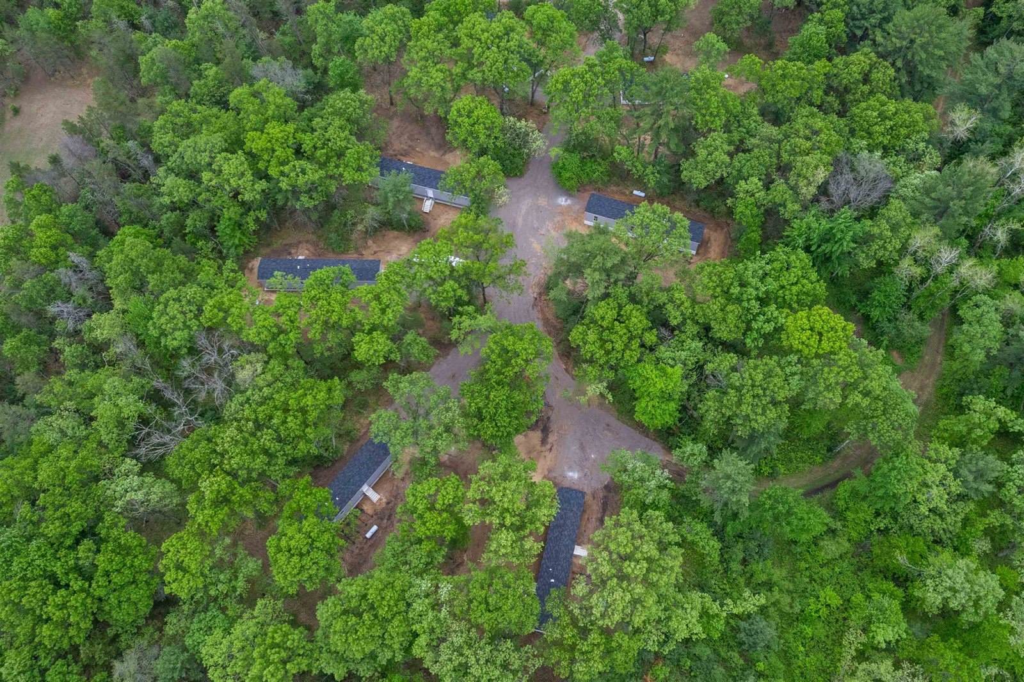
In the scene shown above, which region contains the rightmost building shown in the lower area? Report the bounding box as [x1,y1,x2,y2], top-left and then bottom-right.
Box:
[526,486,585,637]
